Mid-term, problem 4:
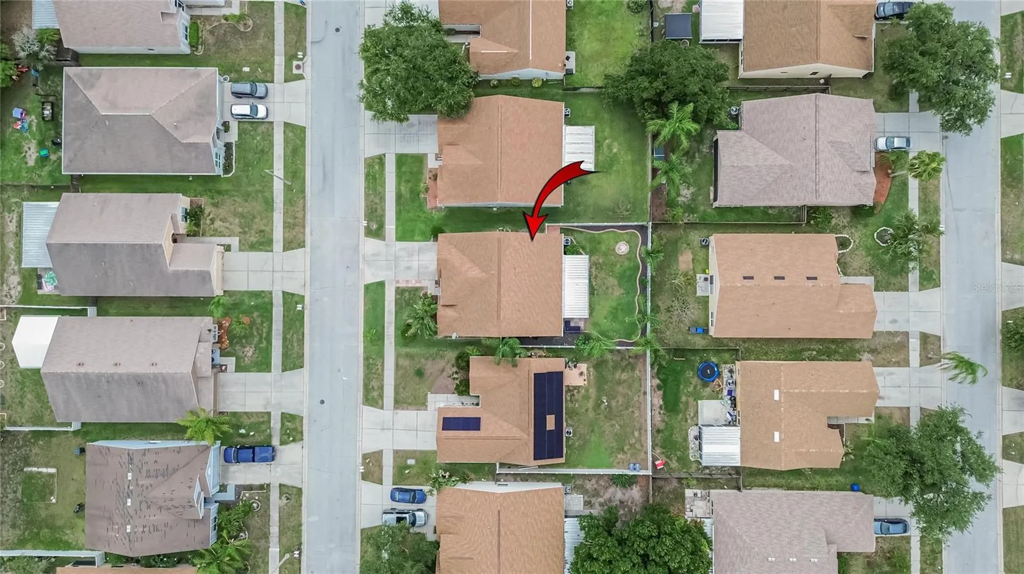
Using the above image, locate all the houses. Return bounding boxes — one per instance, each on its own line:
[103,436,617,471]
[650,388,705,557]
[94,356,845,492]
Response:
[739,0,876,78]
[733,361,881,473]
[54,0,233,52]
[436,95,564,207]
[42,192,225,296]
[707,233,878,339]
[63,67,228,175]
[709,489,875,574]
[436,356,566,466]
[435,480,564,574]
[55,561,207,574]
[40,317,221,423]
[436,230,563,339]
[438,0,566,80]
[709,94,880,208]
[85,441,221,559]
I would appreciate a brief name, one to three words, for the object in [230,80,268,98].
car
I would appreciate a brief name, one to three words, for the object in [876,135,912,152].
car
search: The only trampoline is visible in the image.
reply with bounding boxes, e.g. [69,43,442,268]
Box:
[697,361,719,382]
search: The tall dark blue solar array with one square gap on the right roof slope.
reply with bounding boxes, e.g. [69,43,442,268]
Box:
[534,372,564,460]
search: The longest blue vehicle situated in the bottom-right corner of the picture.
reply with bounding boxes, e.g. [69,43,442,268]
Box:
[875,519,911,537]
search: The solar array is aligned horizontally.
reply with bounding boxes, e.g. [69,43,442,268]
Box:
[442,417,480,430]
